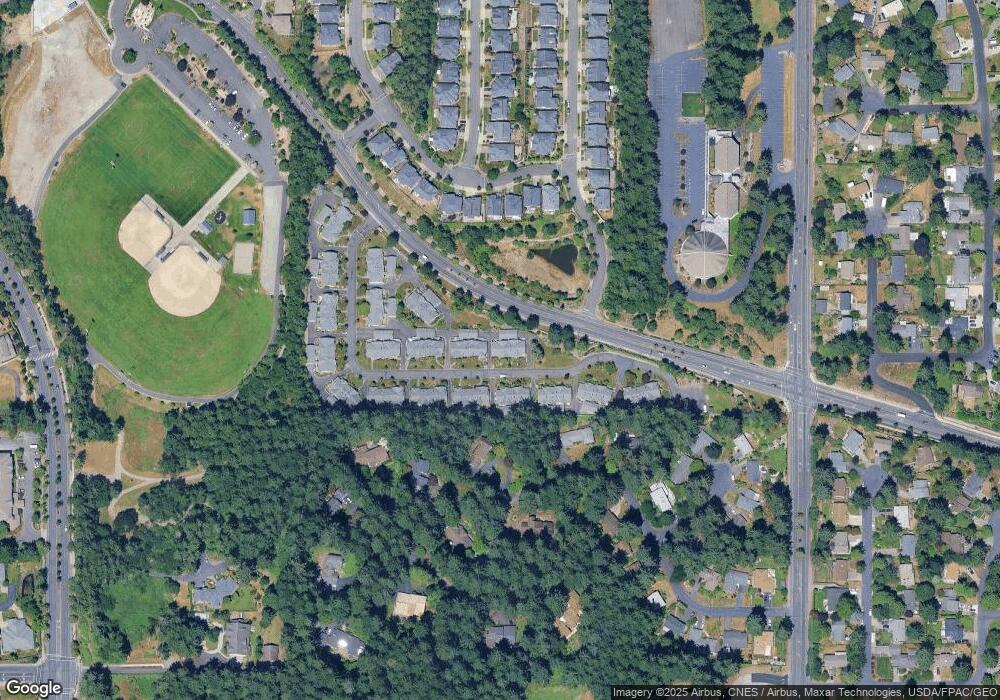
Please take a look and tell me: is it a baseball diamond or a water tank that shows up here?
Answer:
baseball diamond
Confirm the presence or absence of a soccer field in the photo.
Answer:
Yes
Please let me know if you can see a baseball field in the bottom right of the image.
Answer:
No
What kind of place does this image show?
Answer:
residential area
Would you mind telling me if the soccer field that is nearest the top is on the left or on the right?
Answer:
left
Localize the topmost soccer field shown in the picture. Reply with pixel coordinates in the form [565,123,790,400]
[71,77,240,226]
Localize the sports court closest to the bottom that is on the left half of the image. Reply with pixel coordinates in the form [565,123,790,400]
[233,243,254,273]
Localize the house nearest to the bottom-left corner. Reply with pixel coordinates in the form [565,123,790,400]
[3,618,34,652]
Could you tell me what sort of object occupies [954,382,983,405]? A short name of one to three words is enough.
house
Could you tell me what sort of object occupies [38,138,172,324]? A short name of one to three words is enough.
baseball field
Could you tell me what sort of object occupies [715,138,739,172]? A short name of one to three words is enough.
building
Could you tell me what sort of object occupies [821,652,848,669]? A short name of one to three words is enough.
house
